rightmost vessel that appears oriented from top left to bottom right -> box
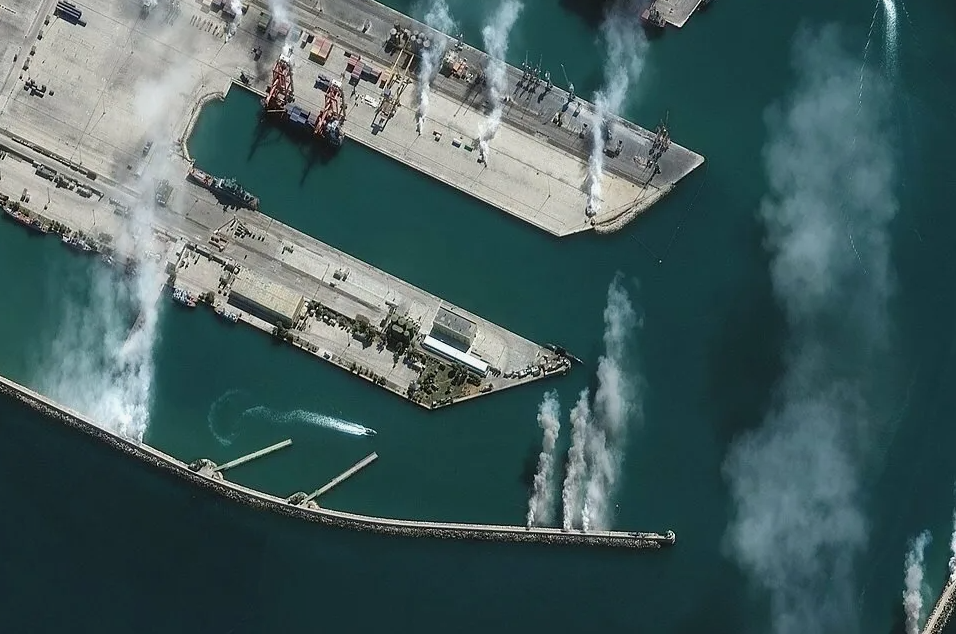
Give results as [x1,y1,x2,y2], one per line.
[642,7,666,29]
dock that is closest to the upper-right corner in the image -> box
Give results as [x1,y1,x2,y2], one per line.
[652,0,702,28]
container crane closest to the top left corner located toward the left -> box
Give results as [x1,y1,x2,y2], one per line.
[251,54,293,115]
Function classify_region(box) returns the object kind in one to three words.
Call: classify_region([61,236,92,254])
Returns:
ship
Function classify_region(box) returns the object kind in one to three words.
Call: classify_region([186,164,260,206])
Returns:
ship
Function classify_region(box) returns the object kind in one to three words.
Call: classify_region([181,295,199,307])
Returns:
boat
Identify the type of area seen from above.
port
